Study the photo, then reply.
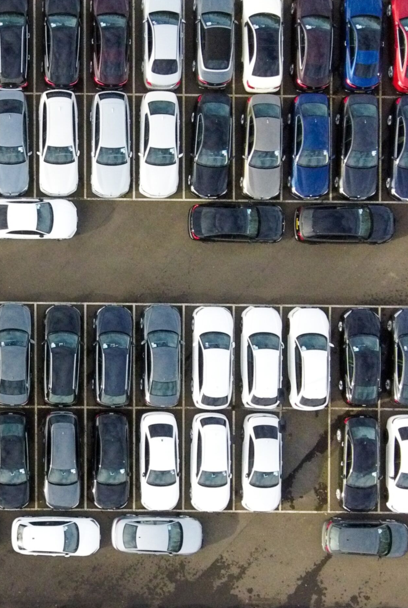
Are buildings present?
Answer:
No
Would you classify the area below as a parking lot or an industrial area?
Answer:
parking lot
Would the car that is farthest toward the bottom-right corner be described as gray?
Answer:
Yes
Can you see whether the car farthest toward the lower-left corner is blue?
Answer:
No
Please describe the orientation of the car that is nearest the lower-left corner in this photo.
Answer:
from side to side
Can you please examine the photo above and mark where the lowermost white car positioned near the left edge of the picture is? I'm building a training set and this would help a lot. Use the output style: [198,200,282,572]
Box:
[11,514,99,560]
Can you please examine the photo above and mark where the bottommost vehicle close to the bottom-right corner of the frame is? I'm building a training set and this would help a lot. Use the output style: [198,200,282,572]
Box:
[318,516,408,562]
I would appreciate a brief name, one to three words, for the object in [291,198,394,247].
car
